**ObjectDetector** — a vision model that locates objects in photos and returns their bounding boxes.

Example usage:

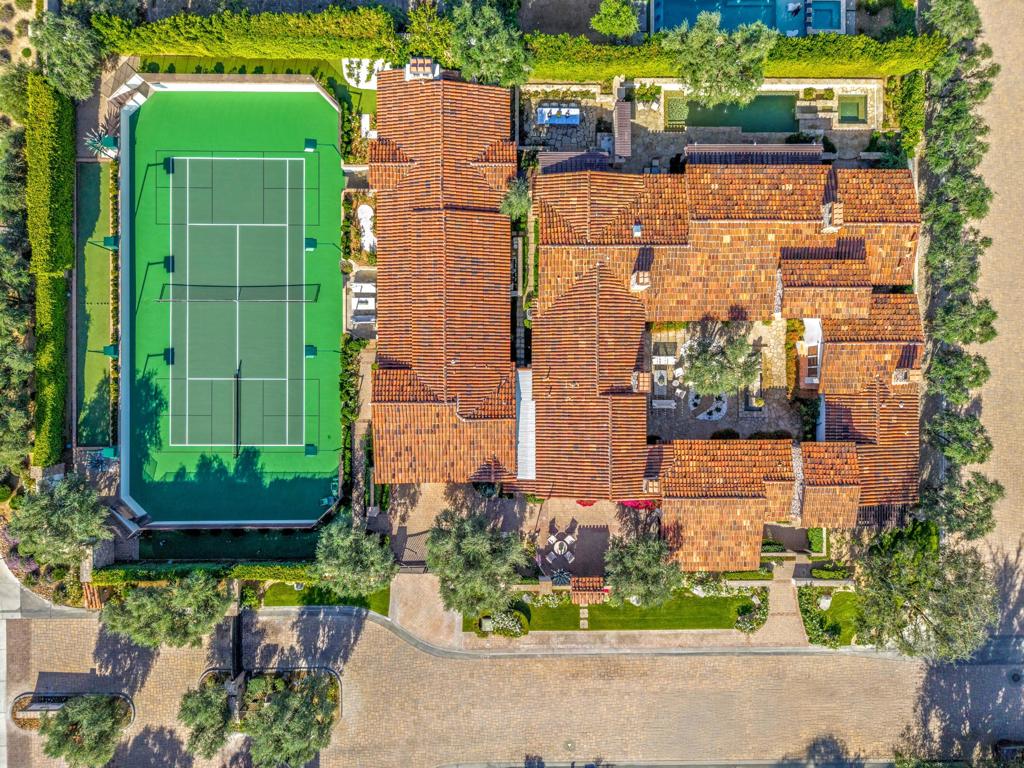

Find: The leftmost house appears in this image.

[368,57,518,484]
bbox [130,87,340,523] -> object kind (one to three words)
tennis court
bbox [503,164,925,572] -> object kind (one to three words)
house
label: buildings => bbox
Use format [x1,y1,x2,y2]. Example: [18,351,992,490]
[368,57,518,484]
[503,164,925,572]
